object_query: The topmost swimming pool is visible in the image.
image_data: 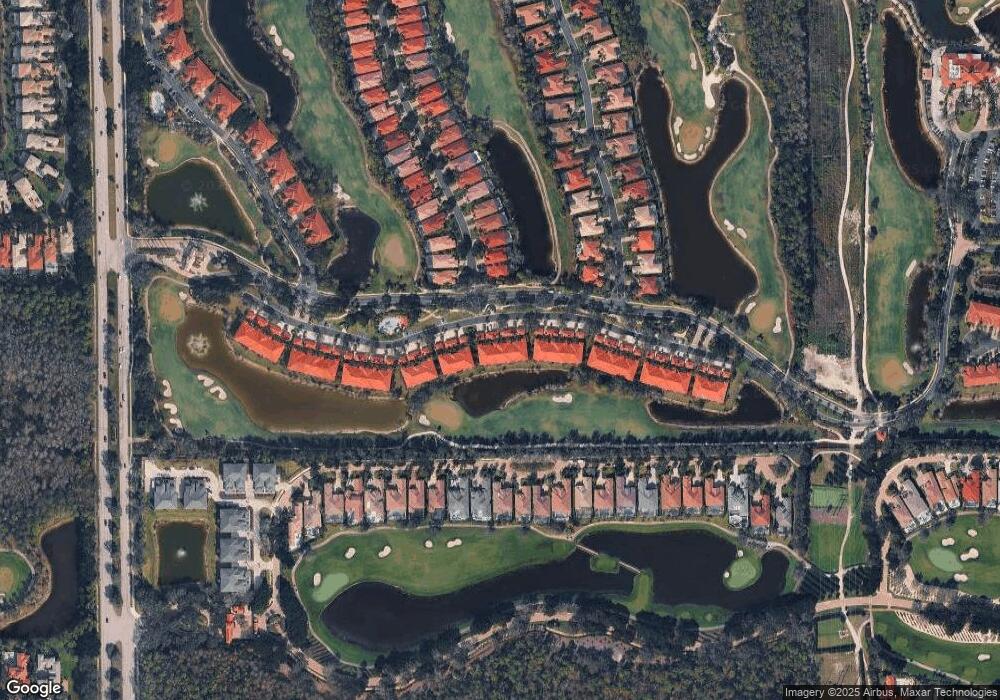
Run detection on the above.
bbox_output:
[149,94,165,113]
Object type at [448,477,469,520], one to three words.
house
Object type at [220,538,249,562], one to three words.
building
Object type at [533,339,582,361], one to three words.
building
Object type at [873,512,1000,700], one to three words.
golf course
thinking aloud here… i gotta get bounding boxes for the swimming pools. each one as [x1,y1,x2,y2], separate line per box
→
[378,315,401,335]
[149,94,165,113]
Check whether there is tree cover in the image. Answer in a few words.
Yes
